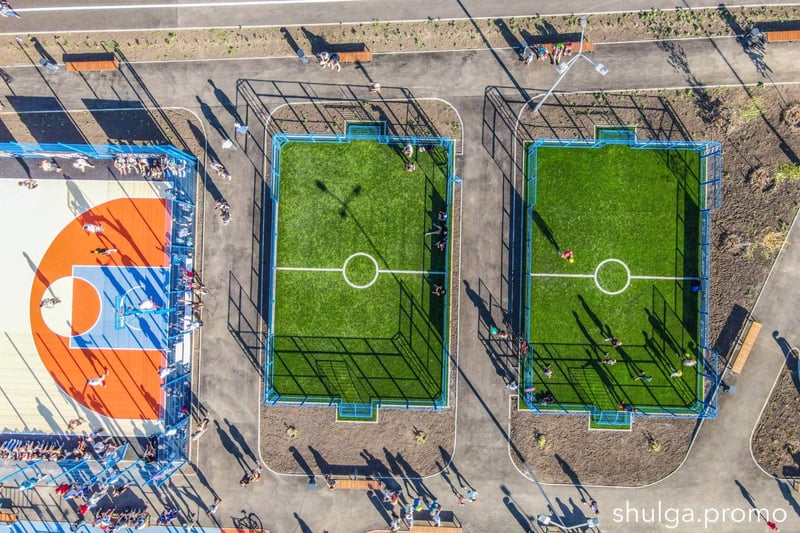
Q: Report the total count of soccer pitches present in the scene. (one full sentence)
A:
Looking from above, you can make out 2 soccer pitches.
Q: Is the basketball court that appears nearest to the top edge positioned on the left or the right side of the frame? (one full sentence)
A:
The basketball court that appears nearest to the top edge is on the left side of the image.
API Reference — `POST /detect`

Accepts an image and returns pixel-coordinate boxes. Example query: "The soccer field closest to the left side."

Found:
[270,117,458,423]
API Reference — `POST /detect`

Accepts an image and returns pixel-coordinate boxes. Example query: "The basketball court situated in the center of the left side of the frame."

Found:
[0,152,198,462]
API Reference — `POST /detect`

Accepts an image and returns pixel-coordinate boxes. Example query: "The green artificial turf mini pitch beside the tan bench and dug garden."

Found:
[517,122,710,431]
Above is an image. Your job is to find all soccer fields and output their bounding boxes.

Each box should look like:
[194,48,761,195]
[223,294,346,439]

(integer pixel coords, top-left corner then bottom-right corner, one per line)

[270,117,458,423]
[517,122,710,431]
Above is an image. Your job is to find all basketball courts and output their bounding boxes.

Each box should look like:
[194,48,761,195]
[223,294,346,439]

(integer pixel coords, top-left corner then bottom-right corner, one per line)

[0,152,198,462]
[0,522,273,533]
